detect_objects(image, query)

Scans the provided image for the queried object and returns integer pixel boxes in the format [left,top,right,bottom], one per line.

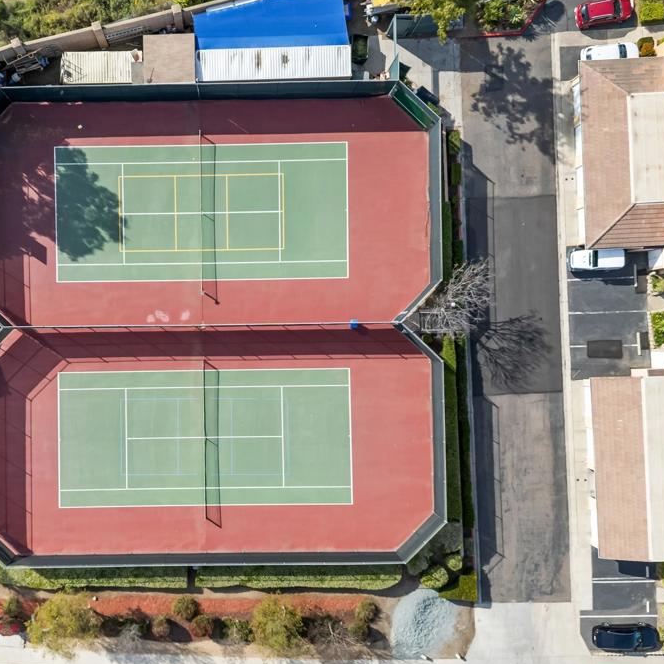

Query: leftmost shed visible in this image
[62,50,134,88]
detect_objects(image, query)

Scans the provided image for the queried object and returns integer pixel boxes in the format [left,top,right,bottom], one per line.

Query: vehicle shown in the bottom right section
[592,622,656,655]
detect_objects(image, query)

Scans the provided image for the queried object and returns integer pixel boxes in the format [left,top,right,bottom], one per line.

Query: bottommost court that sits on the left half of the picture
[0,328,432,556]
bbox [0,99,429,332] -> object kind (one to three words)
tennis court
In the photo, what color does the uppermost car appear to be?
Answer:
red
